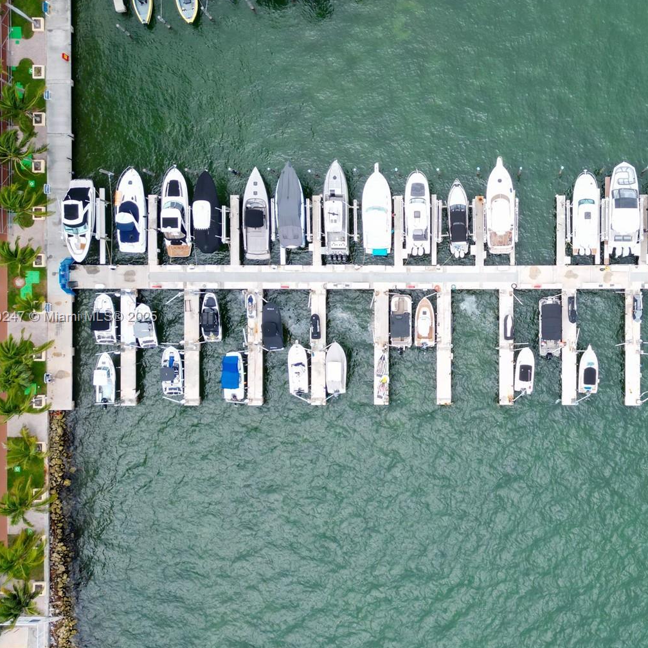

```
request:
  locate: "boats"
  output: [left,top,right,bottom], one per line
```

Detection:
[130,0,156,24]
[276,162,306,249]
[193,168,223,254]
[160,163,194,258]
[323,160,351,262]
[609,162,640,259]
[390,293,412,355]
[415,297,436,350]
[578,345,599,396]
[133,302,161,348]
[447,177,469,259]
[486,155,515,258]
[538,296,563,361]
[515,347,535,394]
[223,352,248,405]
[247,294,256,318]
[326,342,348,398]
[243,167,270,261]
[201,292,223,342]
[62,180,97,262]
[404,168,430,255]
[90,293,119,345]
[363,161,392,256]
[176,0,200,23]
[287,339,309,396]
[160,347,185,394]
[259,300,285,355]
[571,168,600,257]
[93,353,120,409]
[115,165,149,254]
